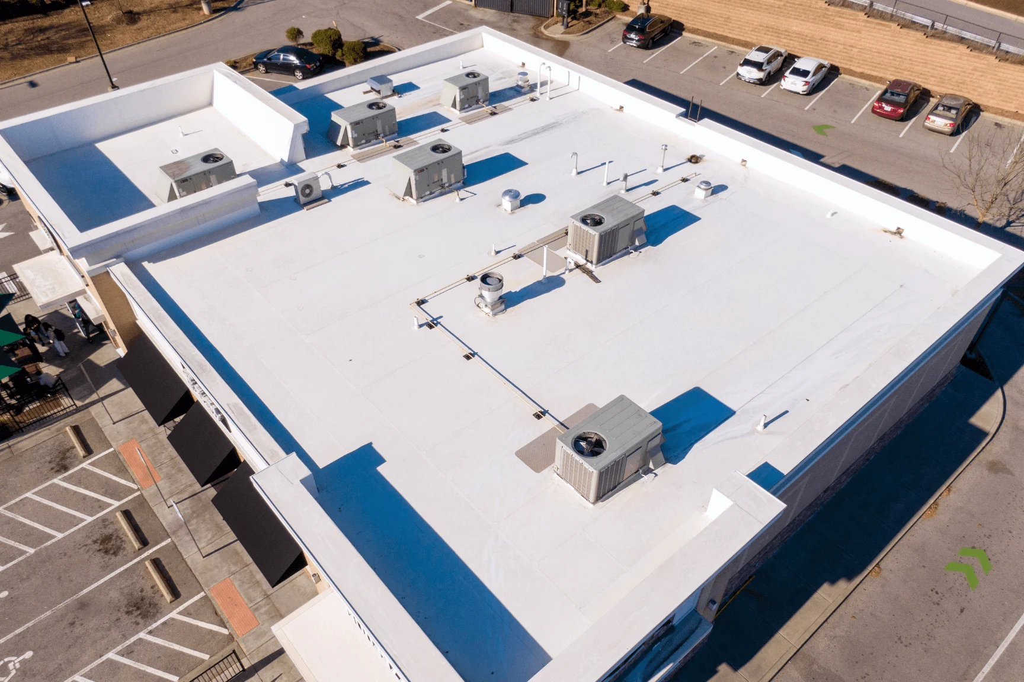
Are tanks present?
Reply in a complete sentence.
No, there appears to be no tank in this shot.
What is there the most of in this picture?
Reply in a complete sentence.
The scene is dominated by buildings.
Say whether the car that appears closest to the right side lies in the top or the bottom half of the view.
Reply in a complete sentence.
The top half of the photo is where the car that appears closest to the right side is.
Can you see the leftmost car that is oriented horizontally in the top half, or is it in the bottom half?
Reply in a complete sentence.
Seen from above, the leftmost car that is oriented horizontally lies in the top half of the view.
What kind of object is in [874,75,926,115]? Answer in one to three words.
car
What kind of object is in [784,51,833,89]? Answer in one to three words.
car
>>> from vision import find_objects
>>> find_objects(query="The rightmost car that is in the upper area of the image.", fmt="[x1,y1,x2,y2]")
[926,87,979,129]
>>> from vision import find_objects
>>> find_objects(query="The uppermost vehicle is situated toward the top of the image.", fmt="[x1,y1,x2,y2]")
[629,9,679,46]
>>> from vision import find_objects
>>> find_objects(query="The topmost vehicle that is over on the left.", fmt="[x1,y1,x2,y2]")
[251,45,326,78]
